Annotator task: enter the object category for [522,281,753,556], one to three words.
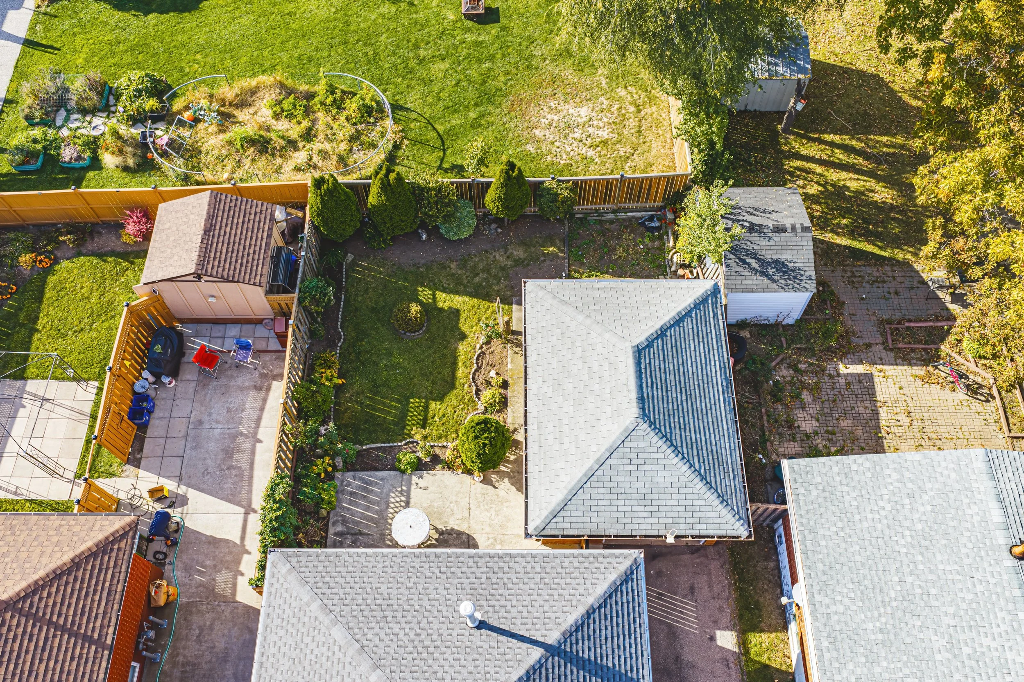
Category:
building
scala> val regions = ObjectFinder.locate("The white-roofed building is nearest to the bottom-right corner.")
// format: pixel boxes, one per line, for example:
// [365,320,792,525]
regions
[773,447,1024,682]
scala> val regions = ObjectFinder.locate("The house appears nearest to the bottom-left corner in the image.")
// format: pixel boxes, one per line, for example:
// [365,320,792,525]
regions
[0,512,163,682]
